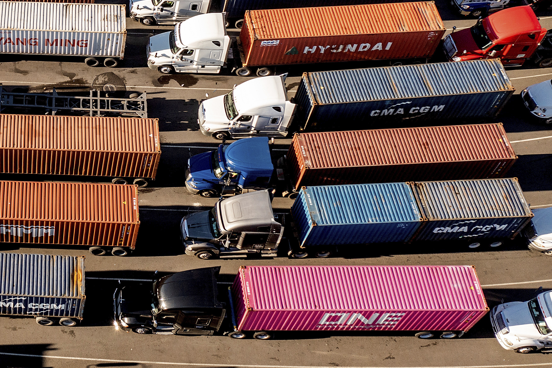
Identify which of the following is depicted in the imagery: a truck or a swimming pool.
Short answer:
truck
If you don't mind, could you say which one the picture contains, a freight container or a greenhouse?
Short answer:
freight container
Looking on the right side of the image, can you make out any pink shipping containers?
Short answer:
Yes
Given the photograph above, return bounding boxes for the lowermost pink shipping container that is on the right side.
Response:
[232,267,486,333]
